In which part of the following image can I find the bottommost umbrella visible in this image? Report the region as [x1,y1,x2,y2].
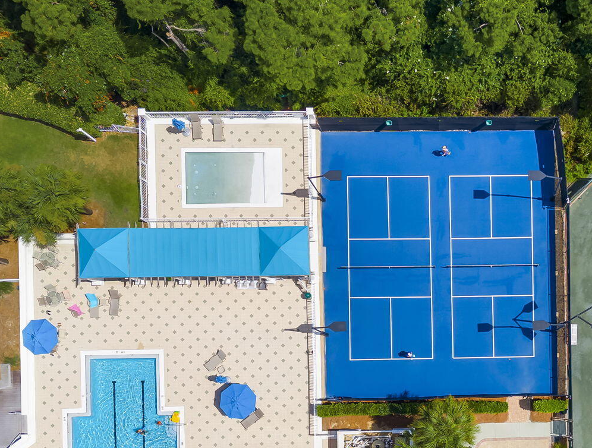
[220,381,258,418]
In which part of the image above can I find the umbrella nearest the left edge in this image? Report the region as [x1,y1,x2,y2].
[25,320,63,354]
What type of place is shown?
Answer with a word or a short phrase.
sports ground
